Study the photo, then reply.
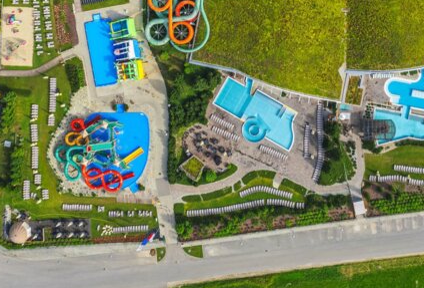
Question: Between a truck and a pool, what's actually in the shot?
pool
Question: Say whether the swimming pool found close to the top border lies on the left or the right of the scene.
left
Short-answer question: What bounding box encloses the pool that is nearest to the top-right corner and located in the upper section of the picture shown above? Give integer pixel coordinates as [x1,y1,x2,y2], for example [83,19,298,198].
[385,68,424,112]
